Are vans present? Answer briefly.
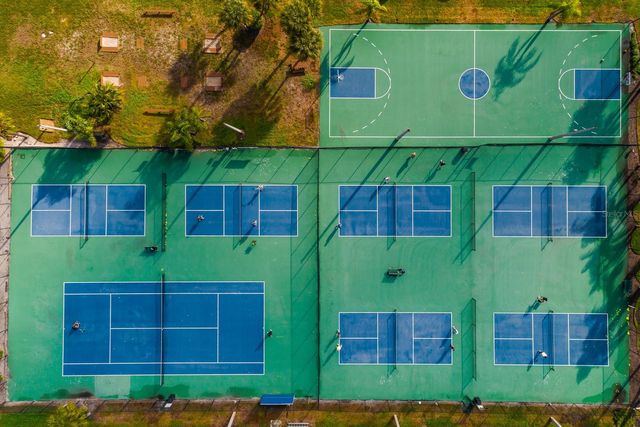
No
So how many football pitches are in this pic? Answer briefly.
0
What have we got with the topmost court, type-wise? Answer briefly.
basketball court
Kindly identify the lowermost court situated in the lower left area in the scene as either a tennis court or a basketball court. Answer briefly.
tennis court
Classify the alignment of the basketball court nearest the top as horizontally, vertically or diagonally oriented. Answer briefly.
horizontally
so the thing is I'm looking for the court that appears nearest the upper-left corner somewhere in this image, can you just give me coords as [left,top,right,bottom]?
[31,184,145,236]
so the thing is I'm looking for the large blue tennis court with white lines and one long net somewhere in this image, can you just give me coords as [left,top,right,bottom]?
[63,281,265,376]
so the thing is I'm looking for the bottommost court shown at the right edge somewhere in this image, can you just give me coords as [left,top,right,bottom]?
[494,313,609,366]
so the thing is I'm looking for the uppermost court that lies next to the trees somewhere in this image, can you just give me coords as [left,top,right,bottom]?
[329,29,621,137]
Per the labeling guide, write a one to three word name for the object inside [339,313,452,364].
sports court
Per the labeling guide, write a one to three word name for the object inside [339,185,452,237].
sports court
